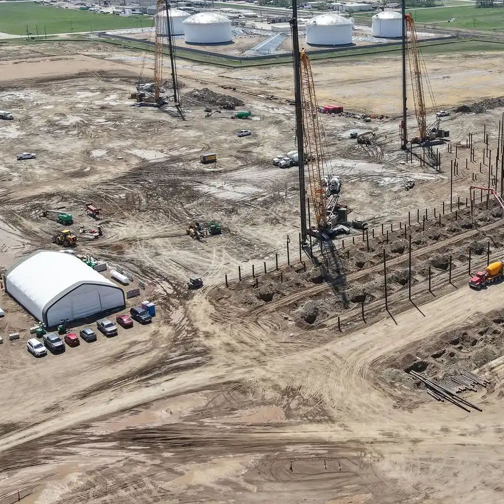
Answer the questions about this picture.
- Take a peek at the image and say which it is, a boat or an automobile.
automobile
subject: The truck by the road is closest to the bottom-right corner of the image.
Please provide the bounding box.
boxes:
[466,256,504,288]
